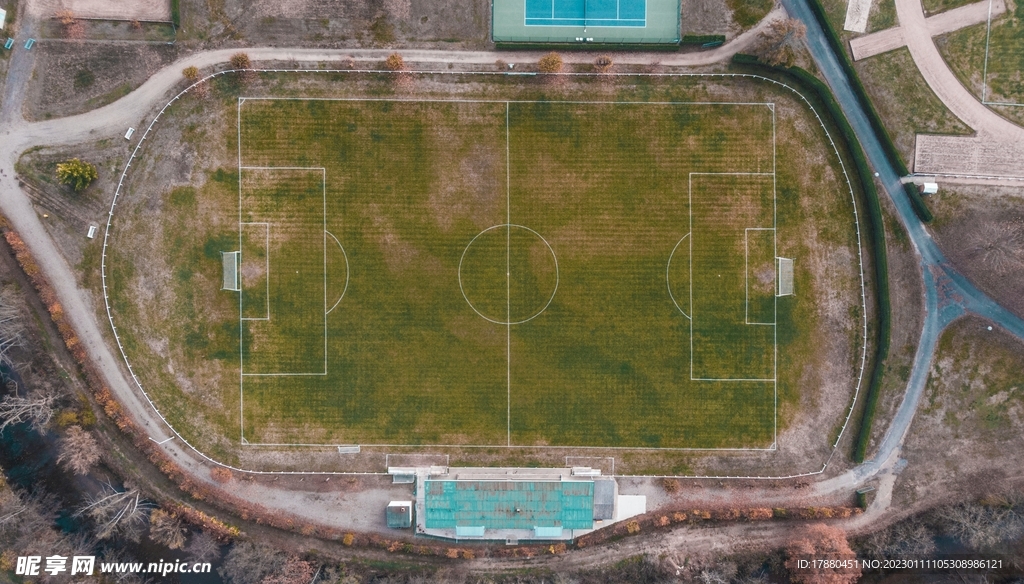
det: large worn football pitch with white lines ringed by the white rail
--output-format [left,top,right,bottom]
[239,98,776,470]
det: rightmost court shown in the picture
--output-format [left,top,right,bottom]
[493,0,678,44]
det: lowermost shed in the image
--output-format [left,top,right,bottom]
[388,503,412,528]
